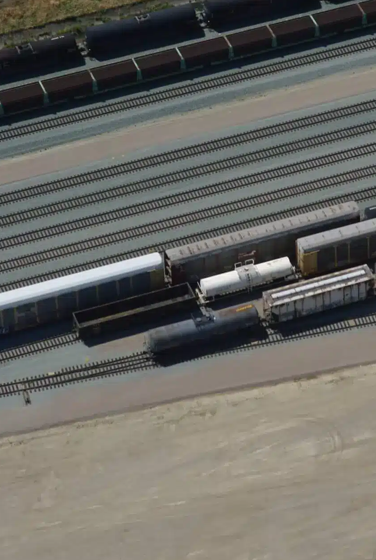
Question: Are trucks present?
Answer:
No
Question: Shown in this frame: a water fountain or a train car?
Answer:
train car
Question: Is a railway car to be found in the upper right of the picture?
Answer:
Yes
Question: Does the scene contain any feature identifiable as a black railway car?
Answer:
Yes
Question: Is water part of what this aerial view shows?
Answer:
No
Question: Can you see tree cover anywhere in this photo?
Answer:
No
